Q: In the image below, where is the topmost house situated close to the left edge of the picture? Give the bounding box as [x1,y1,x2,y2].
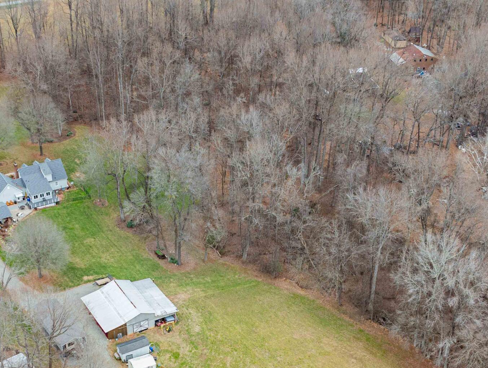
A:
[0,159,69,208]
